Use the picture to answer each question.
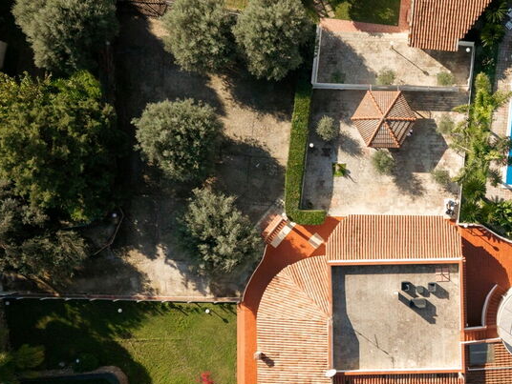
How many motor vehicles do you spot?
none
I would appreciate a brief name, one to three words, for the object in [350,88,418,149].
gazebo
